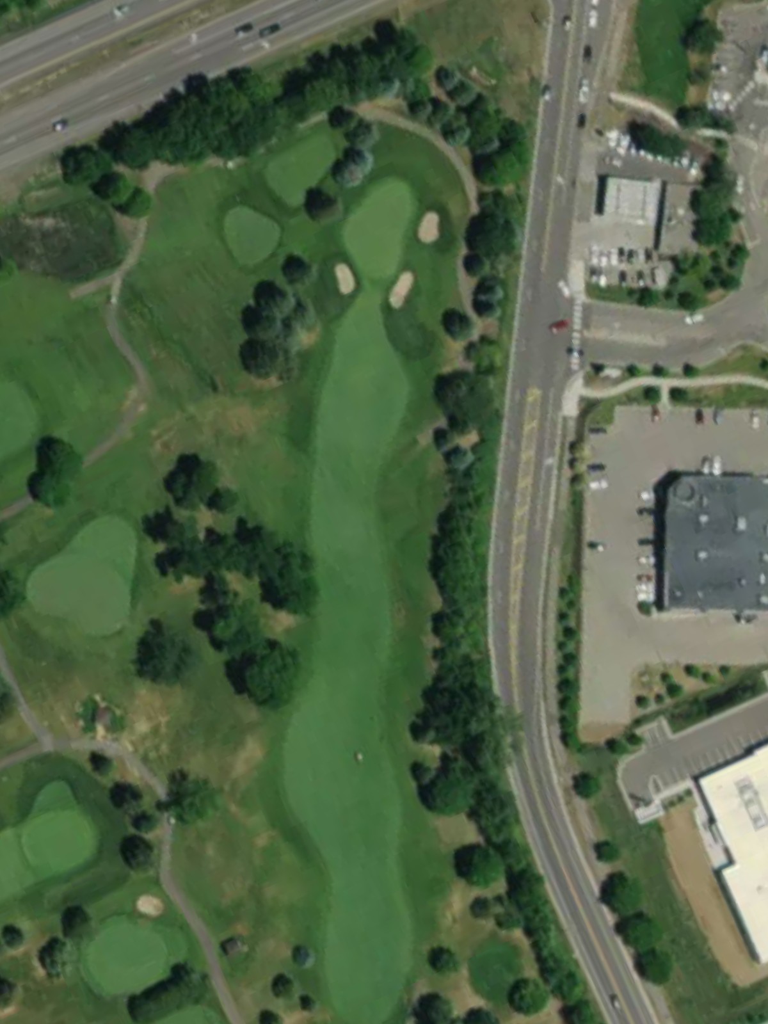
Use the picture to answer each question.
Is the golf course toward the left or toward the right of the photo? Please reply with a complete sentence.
It is on the left.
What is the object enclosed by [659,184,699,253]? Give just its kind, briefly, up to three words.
building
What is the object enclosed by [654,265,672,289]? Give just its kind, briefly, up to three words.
shed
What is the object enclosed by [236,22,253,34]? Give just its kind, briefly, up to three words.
vehicle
